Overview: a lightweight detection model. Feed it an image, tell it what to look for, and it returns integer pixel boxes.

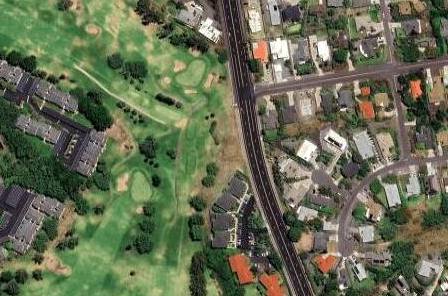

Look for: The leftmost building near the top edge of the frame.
[178,1,203,25]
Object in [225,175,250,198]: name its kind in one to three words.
building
